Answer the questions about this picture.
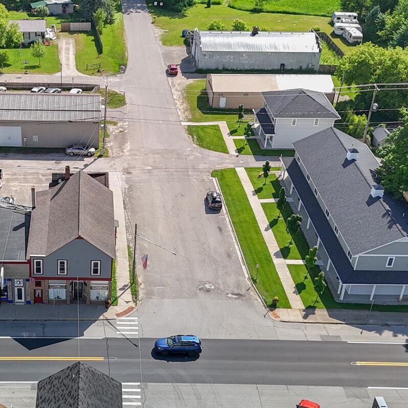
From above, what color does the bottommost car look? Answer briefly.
blue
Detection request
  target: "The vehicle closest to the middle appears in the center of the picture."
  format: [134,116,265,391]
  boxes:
[201,185,225,210]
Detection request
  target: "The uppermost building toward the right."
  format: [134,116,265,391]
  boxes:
[191,22,323,71]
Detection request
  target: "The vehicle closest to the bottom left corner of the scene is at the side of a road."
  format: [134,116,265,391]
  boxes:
[151,330,202,356]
